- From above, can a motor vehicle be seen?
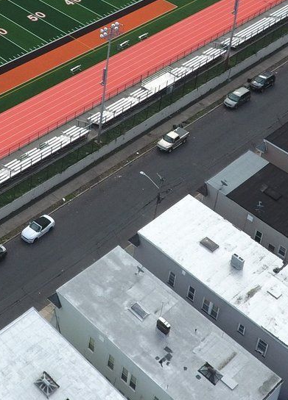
Yes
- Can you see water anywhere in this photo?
No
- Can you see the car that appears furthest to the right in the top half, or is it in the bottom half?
top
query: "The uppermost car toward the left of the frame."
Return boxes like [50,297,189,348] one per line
[19,216,57,244]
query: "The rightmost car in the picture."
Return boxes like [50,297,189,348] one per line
[249,70,275,92]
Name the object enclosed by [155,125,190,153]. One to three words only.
truck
